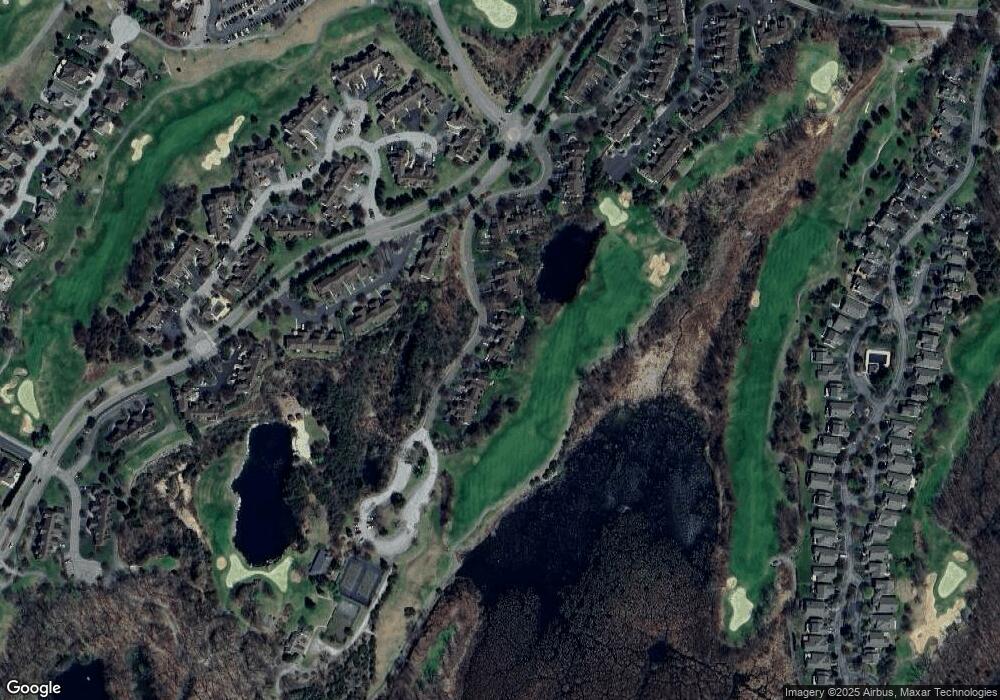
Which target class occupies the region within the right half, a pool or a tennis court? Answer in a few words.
pool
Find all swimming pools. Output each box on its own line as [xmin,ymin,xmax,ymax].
[209,299,230,320]
[865,348,891,375]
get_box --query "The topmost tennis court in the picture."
[340,557,382,605]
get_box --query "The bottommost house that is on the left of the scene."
[289,630,311,653]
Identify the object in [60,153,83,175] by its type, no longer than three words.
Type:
house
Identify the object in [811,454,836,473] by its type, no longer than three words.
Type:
house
